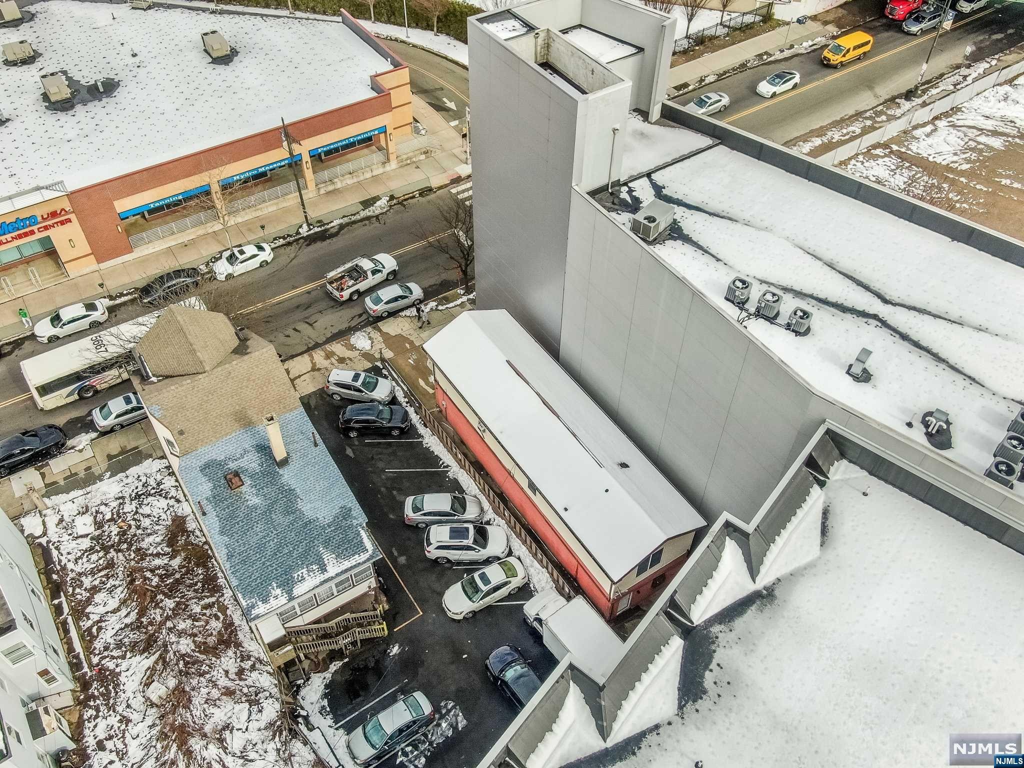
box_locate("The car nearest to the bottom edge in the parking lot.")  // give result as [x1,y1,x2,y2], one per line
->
[339,688,437,768]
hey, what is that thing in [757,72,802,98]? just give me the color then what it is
white car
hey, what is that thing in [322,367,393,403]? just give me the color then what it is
gray car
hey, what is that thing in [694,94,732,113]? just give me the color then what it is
gray car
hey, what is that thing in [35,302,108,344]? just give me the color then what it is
white car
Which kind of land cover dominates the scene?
buildings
